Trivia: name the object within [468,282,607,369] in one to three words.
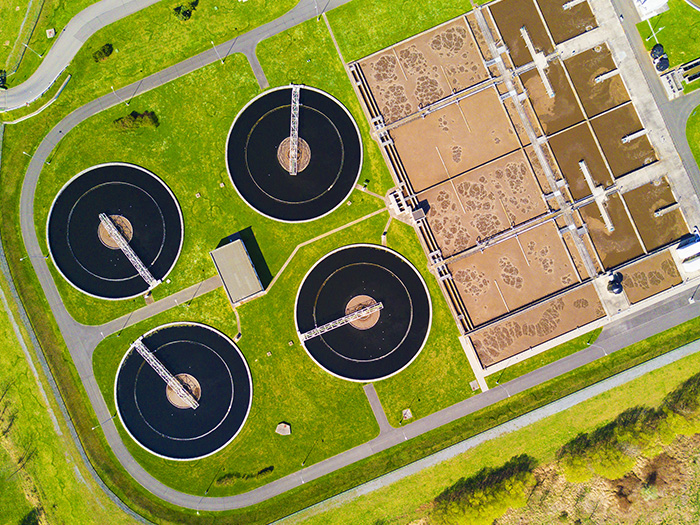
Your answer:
storage tank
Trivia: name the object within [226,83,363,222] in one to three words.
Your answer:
storage tank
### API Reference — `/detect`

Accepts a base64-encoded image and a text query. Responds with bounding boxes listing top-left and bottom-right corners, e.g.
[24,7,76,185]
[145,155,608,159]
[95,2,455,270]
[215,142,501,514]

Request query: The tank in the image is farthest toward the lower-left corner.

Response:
[115,322,253,460]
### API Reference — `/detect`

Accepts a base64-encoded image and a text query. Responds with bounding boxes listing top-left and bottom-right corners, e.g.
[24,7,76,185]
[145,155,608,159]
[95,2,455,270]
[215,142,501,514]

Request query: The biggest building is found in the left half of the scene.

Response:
[211,239,266,303]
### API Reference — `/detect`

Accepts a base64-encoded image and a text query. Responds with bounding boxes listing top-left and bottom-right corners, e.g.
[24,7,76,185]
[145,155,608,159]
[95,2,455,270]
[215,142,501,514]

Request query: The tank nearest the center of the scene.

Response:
[295,243,432,381]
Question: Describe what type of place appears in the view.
industrial area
